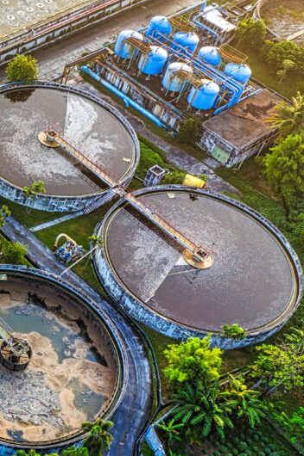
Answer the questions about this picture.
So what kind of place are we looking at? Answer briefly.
industrial area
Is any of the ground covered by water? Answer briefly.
Yes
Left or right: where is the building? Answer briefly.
right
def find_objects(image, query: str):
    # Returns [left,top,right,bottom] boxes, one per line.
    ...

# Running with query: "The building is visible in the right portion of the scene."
[195,97,286,163]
